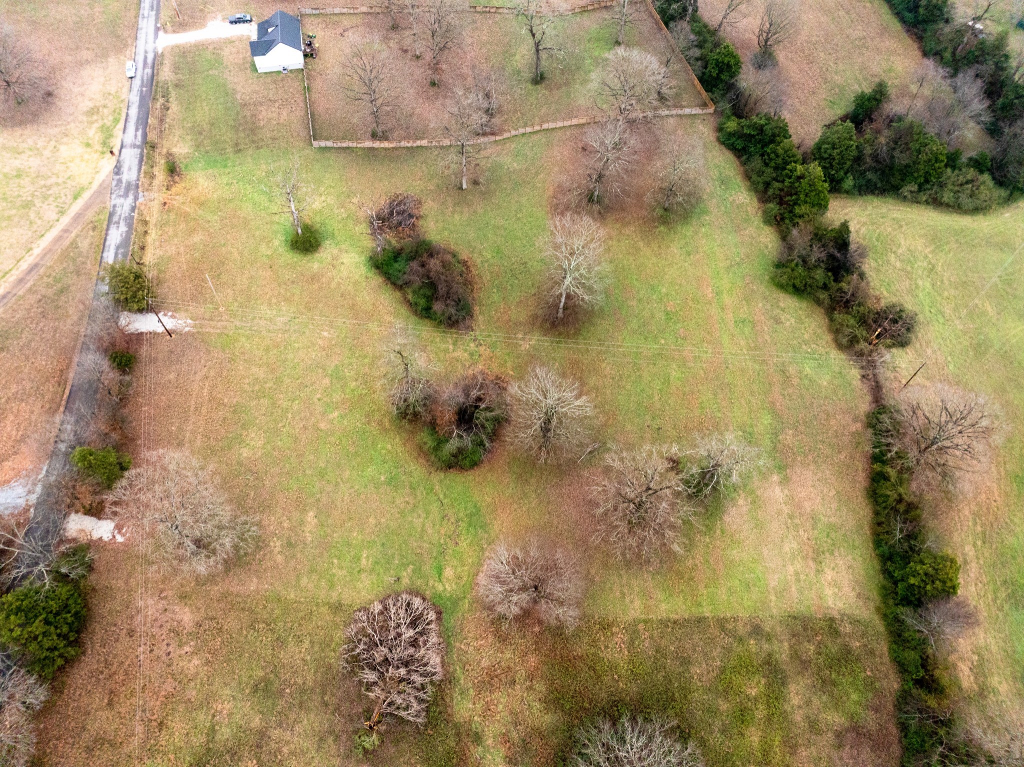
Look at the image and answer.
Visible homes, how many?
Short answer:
1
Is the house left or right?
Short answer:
left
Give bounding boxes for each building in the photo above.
[249,8,303,72]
